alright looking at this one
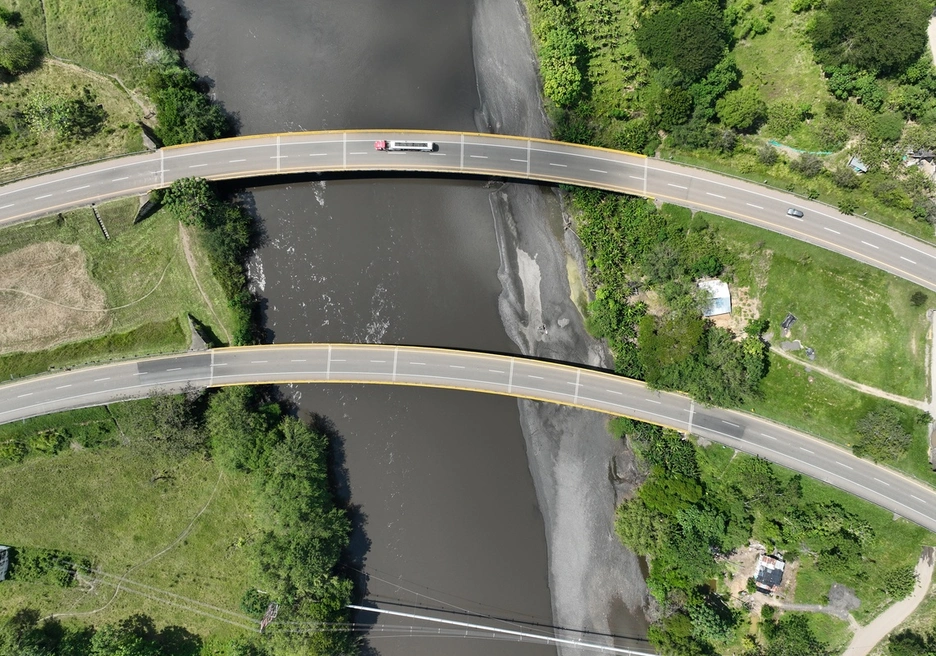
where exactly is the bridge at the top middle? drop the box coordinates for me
[155,130,653,198]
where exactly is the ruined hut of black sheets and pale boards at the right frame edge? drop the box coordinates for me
[906,151,935,169]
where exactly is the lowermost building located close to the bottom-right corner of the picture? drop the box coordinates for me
[751,554,787,590]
